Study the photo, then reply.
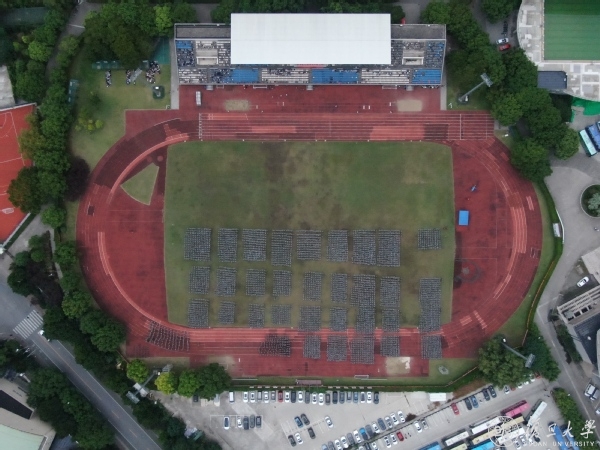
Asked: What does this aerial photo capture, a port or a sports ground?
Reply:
sports ground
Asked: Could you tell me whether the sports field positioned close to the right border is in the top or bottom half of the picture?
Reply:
top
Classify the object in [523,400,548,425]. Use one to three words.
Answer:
bus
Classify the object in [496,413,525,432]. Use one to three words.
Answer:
vehicle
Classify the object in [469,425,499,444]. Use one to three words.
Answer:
vehicle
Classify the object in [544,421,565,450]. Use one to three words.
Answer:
bus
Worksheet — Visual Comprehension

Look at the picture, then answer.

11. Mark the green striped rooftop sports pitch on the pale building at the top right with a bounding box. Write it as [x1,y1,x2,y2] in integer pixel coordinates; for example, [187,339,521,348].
[540,0,600,63]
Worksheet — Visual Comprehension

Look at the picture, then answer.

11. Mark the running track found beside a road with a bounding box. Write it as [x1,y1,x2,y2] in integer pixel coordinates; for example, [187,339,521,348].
[76,86,542,377]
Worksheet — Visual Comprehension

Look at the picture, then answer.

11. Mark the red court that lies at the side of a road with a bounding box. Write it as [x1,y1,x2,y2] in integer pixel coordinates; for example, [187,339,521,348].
[0,107,39,243]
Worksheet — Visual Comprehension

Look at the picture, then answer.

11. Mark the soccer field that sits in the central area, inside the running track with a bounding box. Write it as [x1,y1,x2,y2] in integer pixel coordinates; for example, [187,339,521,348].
[165,141,455,328]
